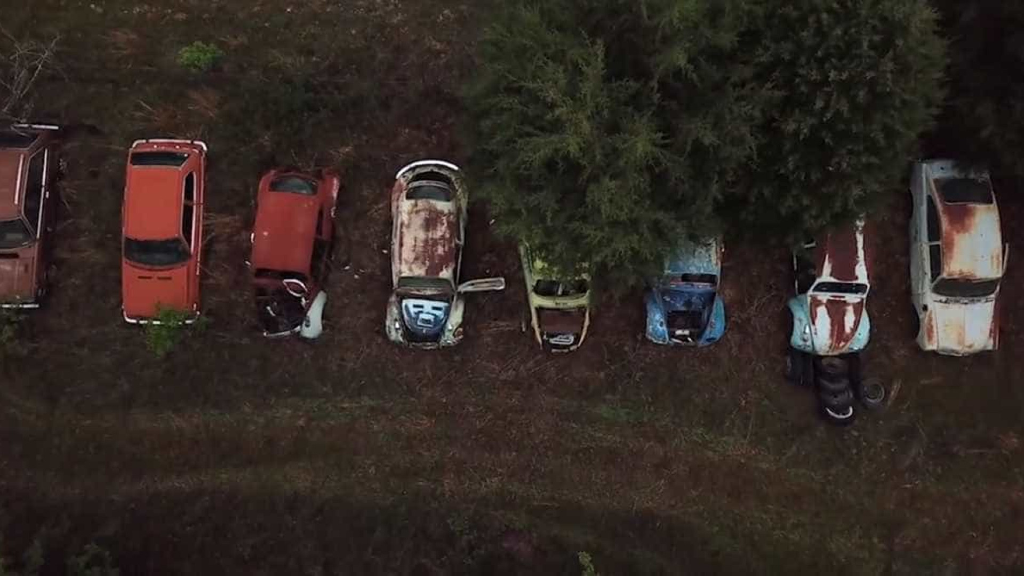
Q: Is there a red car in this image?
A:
Yes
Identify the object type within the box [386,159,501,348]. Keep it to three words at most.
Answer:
car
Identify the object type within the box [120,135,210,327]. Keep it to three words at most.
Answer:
car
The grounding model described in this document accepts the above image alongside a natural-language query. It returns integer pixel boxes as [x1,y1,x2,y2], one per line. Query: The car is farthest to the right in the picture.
[905,162,1006,355]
